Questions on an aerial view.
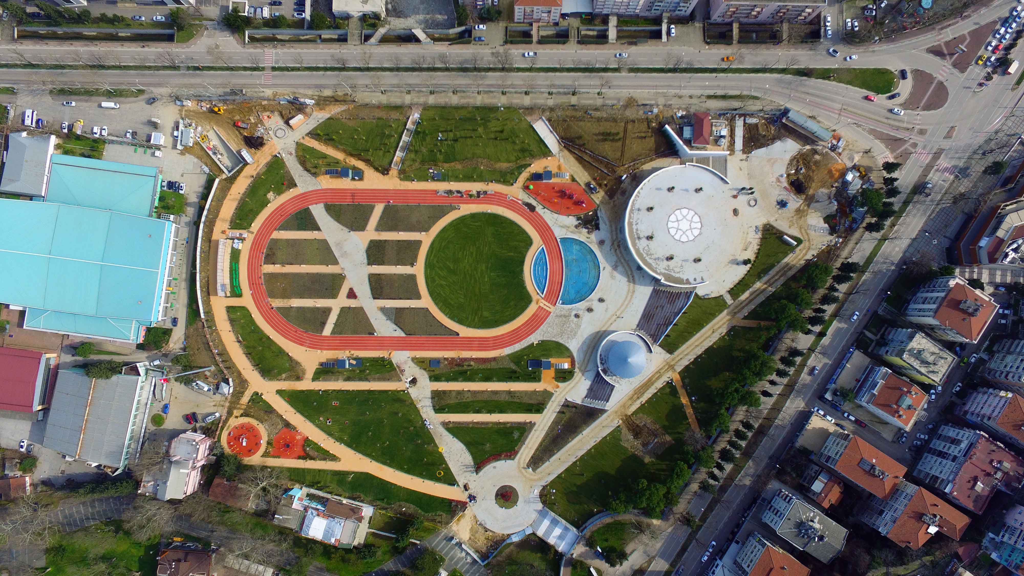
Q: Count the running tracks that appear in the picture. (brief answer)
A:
1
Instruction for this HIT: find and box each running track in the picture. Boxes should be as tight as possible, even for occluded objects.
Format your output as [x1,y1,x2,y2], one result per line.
[246,188,564,352]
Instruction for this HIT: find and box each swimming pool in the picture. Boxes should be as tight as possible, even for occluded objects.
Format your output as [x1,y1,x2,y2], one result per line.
[530,236,601,307]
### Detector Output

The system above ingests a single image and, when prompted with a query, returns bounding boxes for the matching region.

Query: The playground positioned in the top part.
[524,182,597,215]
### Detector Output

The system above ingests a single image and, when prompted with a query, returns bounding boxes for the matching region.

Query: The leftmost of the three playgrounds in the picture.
[226,422,262,458]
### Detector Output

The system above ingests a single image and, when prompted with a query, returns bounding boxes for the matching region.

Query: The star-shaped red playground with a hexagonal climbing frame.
[271,425,307,459]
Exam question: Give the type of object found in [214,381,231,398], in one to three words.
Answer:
gazebo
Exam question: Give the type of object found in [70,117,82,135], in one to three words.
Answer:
vehicle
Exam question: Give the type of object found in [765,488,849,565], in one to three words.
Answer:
building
